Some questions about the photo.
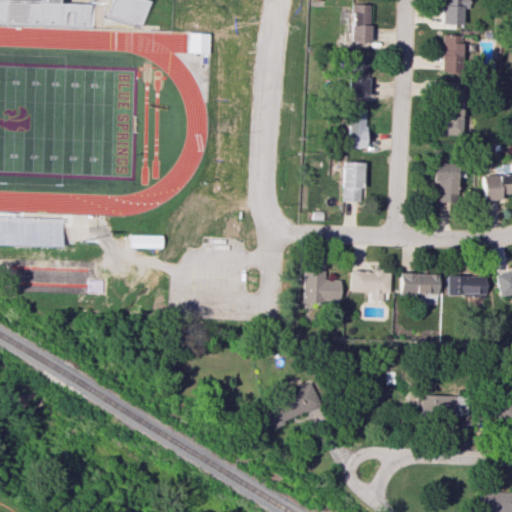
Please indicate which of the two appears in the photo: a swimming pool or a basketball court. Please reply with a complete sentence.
It is a swimming pool that can be seen here.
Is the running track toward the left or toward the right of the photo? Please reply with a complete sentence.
The running track is on the left side of the image.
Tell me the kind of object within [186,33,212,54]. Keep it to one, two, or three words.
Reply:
shed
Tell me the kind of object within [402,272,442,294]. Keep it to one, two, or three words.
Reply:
house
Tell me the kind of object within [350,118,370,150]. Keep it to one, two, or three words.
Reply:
house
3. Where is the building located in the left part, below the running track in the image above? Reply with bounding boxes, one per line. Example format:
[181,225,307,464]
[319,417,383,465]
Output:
[128,235,165,250]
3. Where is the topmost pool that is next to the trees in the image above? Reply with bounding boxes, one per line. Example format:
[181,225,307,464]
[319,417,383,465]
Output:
[478,38,497,64]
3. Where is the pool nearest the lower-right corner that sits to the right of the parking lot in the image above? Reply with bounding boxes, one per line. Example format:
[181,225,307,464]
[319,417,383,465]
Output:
[360,301,389,320]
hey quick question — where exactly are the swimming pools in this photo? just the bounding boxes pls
[275,358,286,368]
[360,301,389,320]
[478,38,497,64]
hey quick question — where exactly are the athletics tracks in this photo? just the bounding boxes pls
[0,28,208,216]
